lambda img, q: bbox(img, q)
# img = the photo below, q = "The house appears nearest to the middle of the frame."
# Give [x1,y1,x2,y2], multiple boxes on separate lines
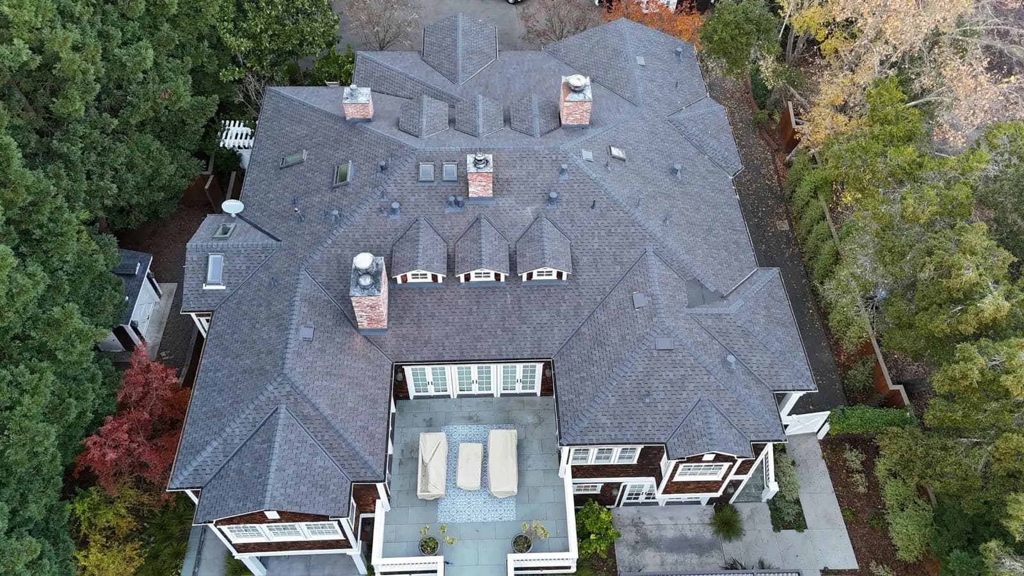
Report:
[163,14,821,576]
